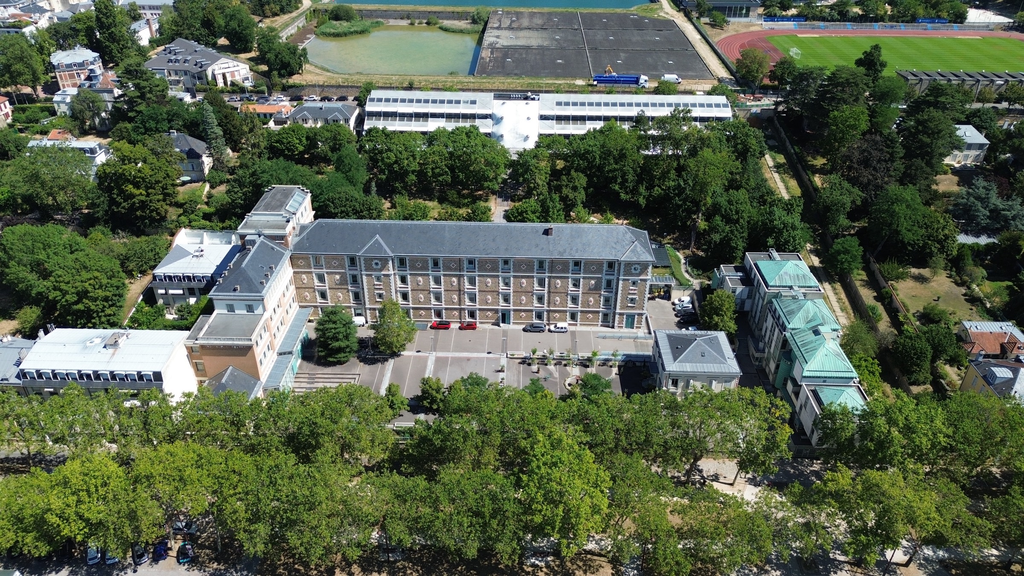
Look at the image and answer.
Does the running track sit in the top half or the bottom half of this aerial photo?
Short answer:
top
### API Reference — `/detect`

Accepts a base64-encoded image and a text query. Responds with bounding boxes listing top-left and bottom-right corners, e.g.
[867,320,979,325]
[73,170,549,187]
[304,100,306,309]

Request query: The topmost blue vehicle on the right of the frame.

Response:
[595,73,648,88]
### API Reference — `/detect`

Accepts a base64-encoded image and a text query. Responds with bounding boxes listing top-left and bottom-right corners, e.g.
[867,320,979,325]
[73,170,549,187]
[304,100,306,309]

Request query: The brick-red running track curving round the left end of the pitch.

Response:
[720,29,1024,89]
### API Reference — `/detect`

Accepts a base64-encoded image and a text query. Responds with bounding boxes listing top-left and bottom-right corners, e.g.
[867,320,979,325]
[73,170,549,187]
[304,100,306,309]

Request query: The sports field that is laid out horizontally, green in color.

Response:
[769,36,1024,79]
